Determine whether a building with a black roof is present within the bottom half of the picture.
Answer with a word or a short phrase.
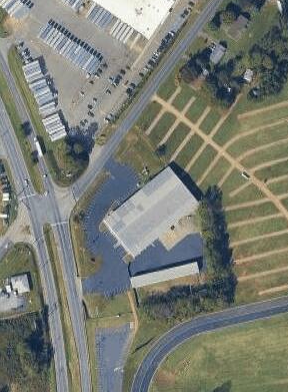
No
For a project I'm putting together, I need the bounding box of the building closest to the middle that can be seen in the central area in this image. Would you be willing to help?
[103,166,197,261]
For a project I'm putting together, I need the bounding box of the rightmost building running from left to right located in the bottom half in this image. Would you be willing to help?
[131,262,200,287]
